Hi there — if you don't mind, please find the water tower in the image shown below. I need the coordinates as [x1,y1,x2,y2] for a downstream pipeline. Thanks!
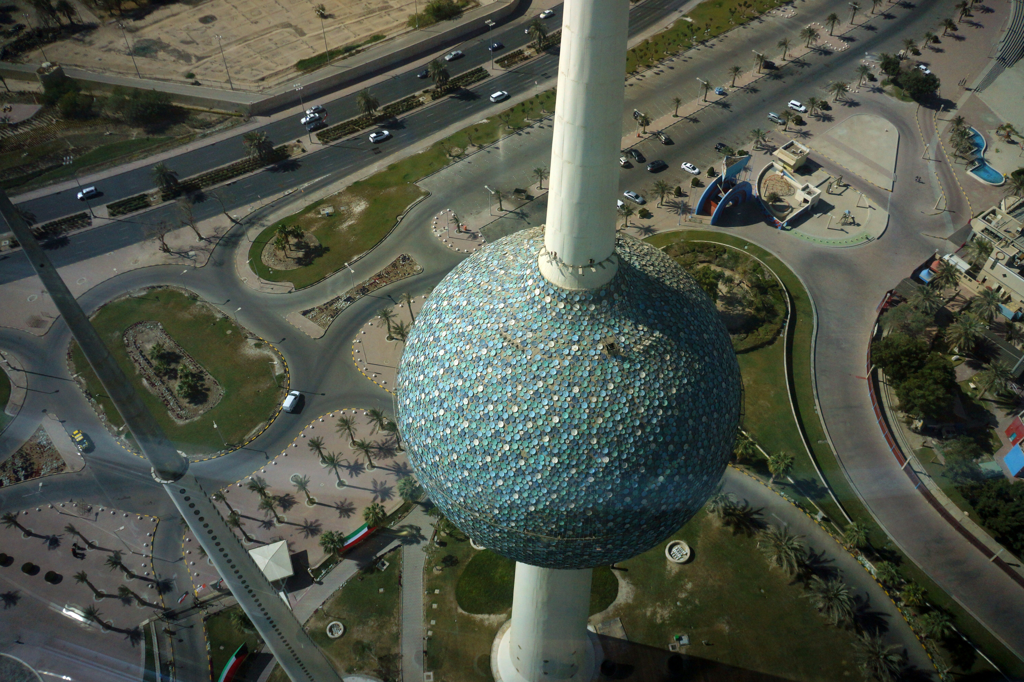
[389,0,748,682]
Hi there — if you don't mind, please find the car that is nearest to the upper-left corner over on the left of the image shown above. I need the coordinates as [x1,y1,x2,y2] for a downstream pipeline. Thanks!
[78,187,98,199]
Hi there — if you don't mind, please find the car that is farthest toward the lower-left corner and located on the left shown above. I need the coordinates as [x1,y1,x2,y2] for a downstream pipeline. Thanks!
[67,425,90,451]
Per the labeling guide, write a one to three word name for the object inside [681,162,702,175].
vehicle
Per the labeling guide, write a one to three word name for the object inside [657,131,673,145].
car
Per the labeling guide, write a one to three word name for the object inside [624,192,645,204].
vehicle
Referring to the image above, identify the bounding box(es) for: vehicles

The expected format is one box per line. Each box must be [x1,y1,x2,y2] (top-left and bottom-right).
[763,57,778,70]
[540,9,554,18]
[632,107,643,121]
[489,42,504,50]
[657,131,673,145]
[283,390,300,410]
[67,425,90,451]
[446,50,462,59]
[790,100,807,111]
[306,105,323,114]
[524,24,538,33]
[416,68,433,78]
[78,187,98,199]
[624,192,645,204]
[369,130,390,142]
[490,91,509,102]
[945,250,978,271]
[615,198,625,208]
[681,162,702,175]
[308,121,326,132]
[647,160,667,171]
[301,113,320,124]
[768,111,787,124]
[714,142,728,154]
